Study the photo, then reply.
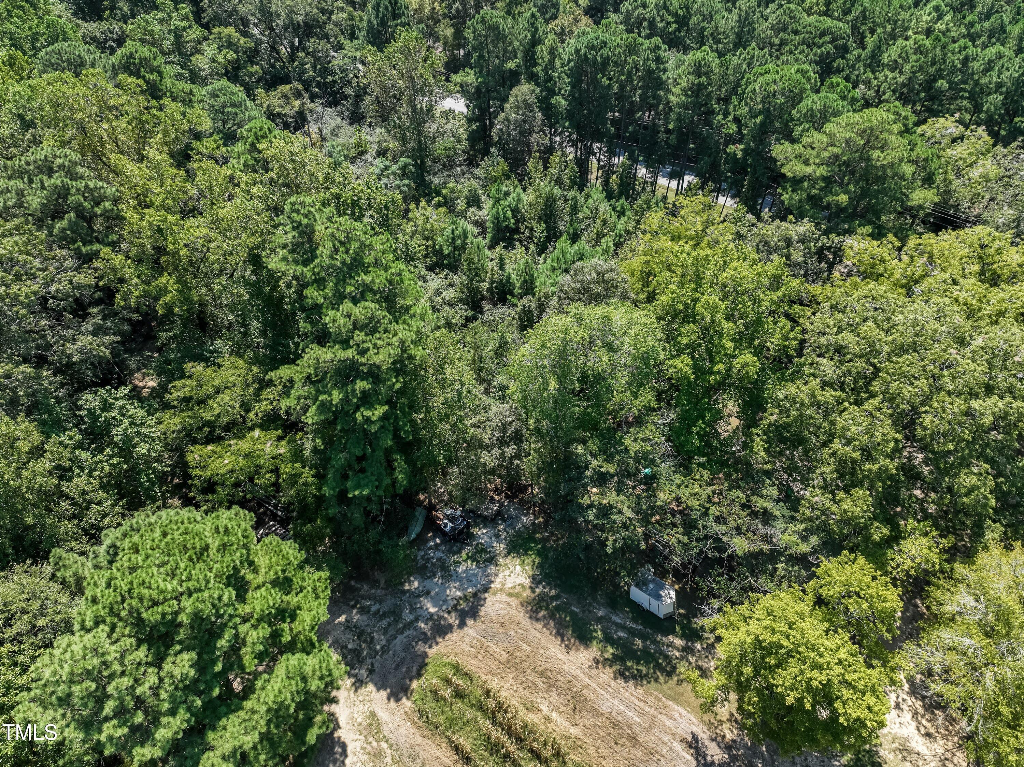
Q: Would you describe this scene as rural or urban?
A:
rural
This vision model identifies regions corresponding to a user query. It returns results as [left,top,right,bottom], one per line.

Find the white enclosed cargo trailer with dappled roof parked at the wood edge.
[630,569,686,621]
